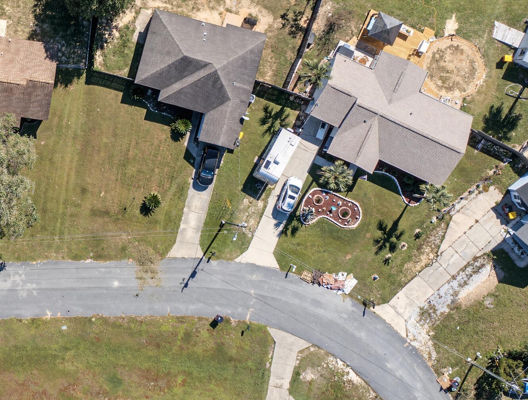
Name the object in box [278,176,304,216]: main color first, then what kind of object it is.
white car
